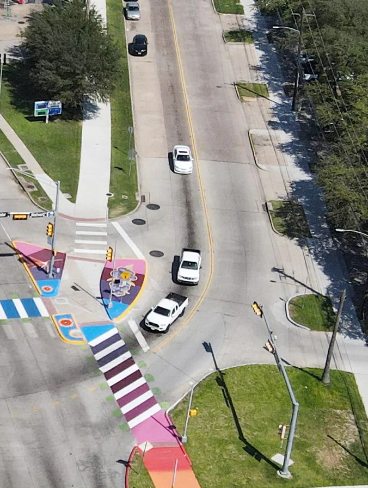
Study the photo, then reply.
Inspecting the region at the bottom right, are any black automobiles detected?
No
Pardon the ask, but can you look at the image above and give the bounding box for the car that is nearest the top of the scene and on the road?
[126,0,143,17]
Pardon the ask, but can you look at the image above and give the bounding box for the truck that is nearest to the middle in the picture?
[177,243,204,281]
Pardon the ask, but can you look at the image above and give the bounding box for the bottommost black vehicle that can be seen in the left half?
[132,34,149,53]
